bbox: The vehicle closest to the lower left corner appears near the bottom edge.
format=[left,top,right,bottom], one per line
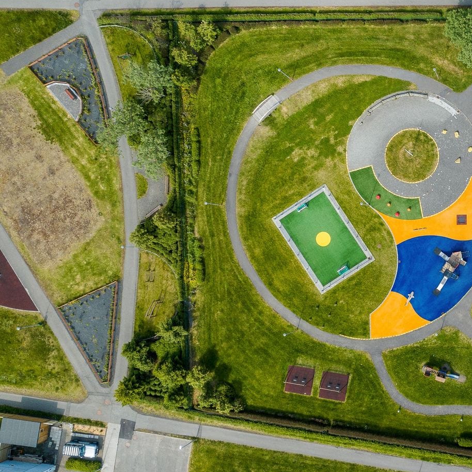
[61,442,101,460]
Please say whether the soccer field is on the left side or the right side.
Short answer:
right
